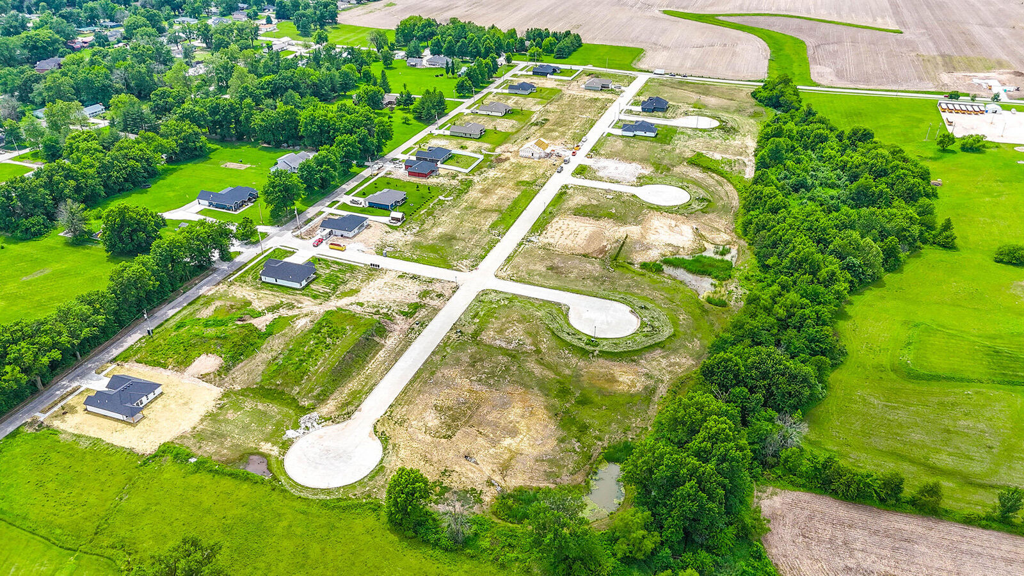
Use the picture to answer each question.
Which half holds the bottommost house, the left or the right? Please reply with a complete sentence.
It is on the left.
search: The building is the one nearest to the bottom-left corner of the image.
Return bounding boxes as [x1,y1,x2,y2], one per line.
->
[83,373,163,423]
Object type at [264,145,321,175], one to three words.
house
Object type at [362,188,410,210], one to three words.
house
